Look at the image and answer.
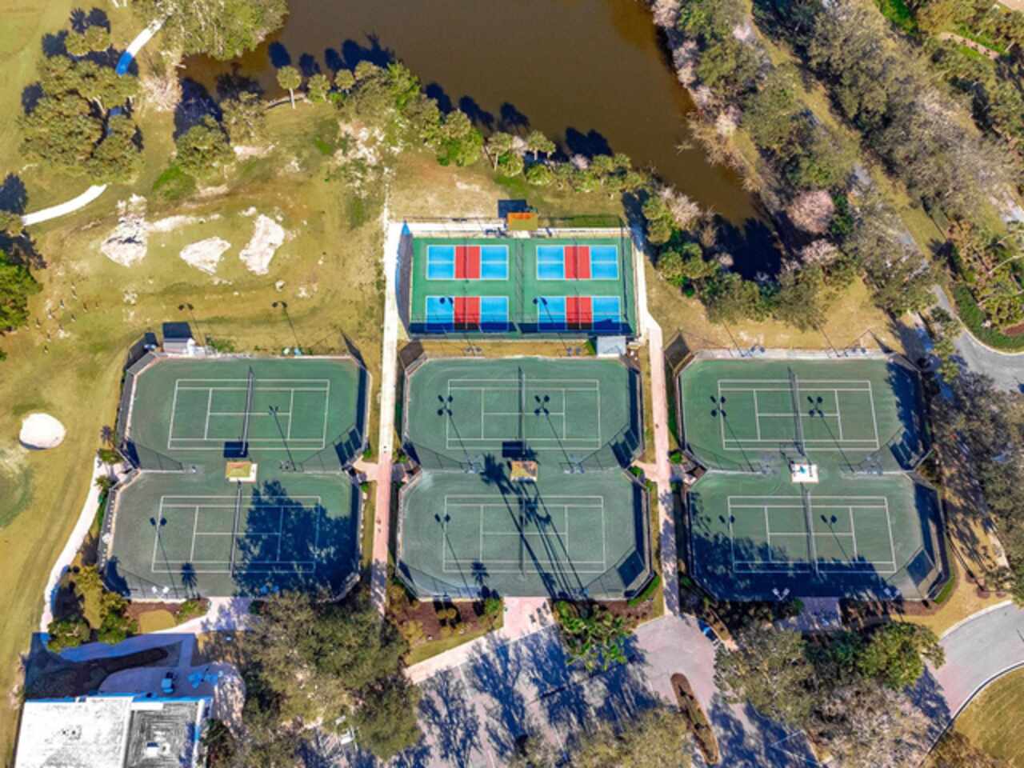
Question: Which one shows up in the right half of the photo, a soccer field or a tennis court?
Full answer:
The one visible in the right half of the photo is a tennis court.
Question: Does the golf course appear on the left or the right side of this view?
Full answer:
The golf course sits on the left side.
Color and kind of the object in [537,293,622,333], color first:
blue sports court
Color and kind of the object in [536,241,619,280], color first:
blue sports court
